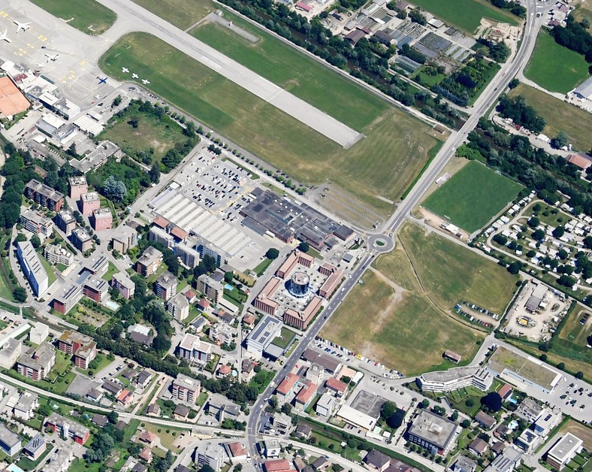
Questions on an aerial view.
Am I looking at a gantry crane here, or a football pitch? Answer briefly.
football pitch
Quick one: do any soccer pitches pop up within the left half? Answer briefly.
No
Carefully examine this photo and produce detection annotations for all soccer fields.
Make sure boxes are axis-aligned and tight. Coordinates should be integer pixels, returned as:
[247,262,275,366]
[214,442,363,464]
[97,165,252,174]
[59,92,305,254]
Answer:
[421,160,525,232]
